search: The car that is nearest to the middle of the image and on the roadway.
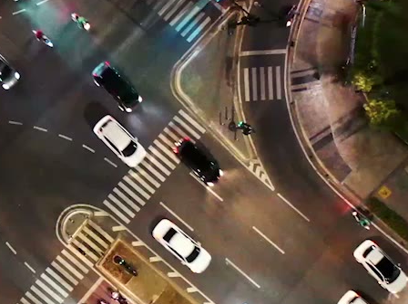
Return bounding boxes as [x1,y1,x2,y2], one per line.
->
[173,137,222,186]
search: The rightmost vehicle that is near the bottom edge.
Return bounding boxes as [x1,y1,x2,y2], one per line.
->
[352,240,406,293]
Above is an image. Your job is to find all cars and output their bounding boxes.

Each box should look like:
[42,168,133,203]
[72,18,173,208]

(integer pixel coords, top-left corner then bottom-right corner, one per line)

[0,54,20,90]
[336,290,367,304]
[91,59,142,112]
[352,240,406,293]
[152,219,208,270]
[173,137,222,186]
[92,115,145,168]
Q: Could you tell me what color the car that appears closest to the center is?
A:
black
